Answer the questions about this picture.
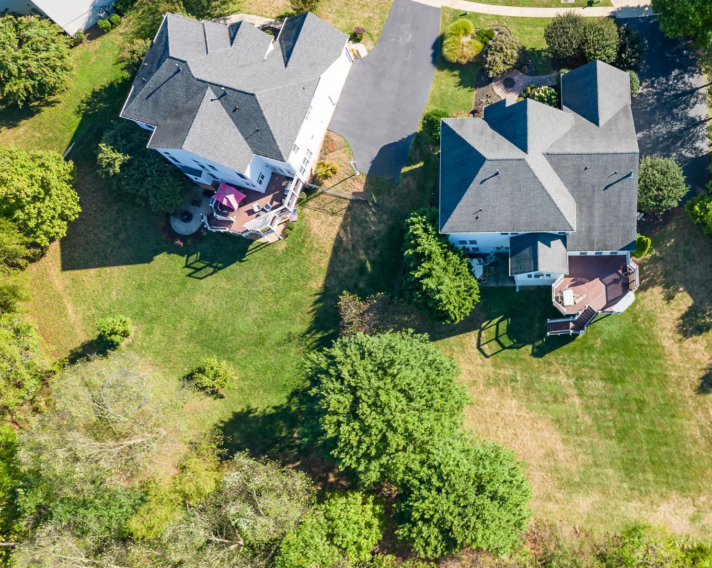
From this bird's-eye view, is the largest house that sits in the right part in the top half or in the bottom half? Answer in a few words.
top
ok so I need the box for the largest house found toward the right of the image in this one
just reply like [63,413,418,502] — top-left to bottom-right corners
[439,60,639,281]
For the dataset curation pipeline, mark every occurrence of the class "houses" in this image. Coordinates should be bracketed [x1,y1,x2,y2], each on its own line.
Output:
[439,60,639,281]
[119,12,352,192]
[32,0,113,35]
